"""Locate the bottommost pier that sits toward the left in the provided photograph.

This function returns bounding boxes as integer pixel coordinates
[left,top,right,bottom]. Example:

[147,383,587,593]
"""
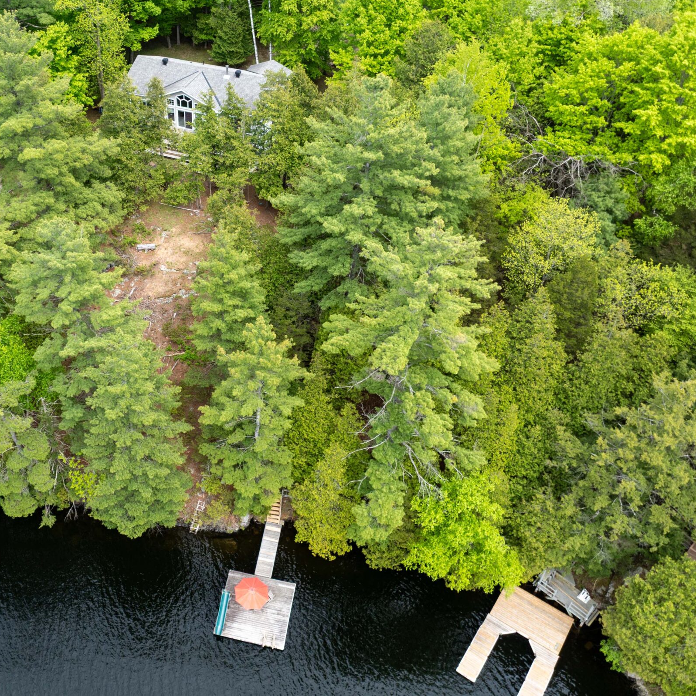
[215,570,295,654]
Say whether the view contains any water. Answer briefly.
Yes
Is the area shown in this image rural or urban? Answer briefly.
rural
